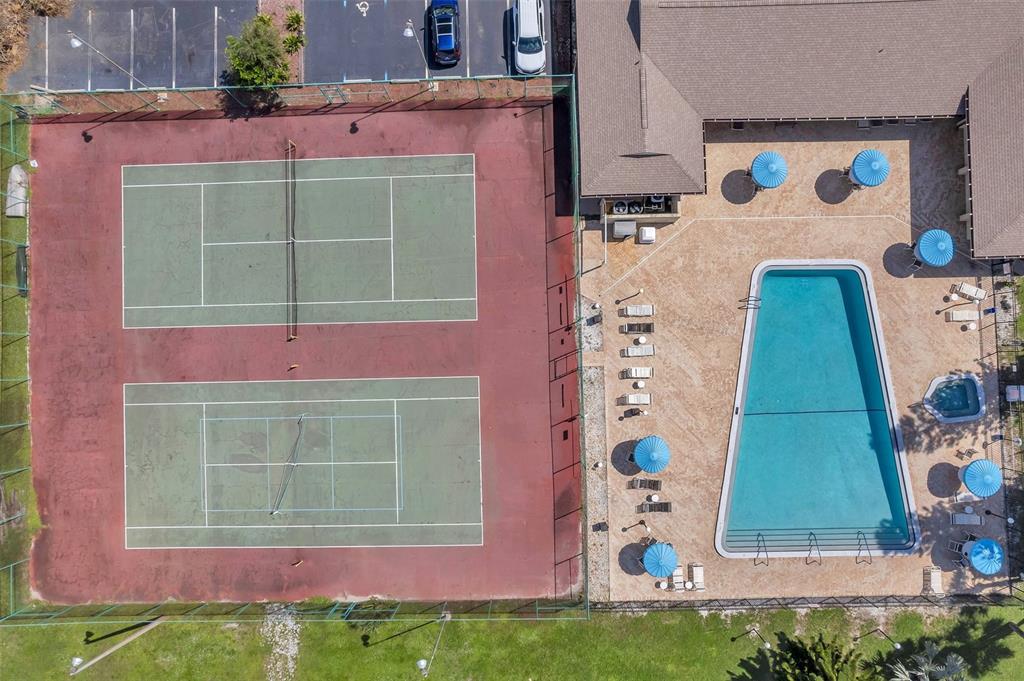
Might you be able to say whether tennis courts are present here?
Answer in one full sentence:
Yes, there's a tennis court down there.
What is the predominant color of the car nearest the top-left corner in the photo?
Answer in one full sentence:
From above, the car nearest the top-left corner appears blue.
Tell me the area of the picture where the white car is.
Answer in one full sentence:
The white car is in the top part of the image.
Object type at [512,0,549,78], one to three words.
car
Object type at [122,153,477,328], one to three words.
tennis court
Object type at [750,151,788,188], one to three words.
umbrella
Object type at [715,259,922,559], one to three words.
swimming pool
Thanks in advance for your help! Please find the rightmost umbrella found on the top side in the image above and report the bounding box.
[916,229,956,267]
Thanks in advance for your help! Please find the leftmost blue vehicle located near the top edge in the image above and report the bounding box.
[428,0,463,65]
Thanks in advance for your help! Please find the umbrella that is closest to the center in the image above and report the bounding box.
[634,436,671,472]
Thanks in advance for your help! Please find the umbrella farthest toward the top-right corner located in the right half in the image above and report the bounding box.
[852,149,891,187]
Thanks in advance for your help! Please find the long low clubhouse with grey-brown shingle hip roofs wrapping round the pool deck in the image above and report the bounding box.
[577,0,1024,260]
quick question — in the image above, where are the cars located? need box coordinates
[512,0,549,78]
[428,0,463,65]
